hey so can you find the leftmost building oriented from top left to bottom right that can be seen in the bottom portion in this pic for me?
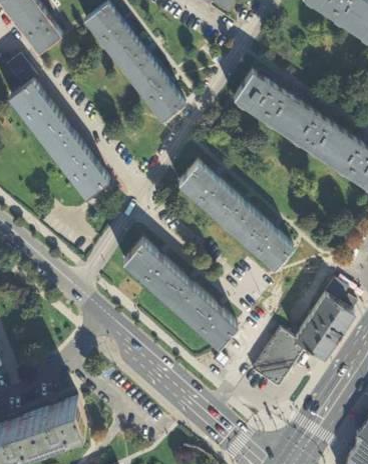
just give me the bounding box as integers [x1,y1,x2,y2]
[124,230,237,352]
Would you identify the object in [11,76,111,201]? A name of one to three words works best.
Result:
building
